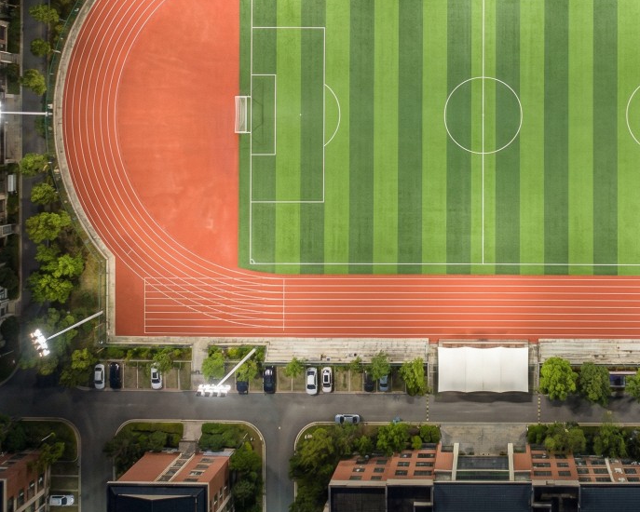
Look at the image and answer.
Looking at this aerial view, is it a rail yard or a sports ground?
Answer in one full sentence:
This image shows a sports ground.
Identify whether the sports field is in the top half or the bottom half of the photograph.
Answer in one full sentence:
The sports field is in the top half of the image.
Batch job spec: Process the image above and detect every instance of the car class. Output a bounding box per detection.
[335,413,360,424]
[109,362,122,388]
[93,364,106,388]
[151,365,163,390]
[237,378,248,392]
[51,493,74,507]
[364,369,375,394]
[322,368,332,392]
[379,371,389,393]
[306,368,318,394]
